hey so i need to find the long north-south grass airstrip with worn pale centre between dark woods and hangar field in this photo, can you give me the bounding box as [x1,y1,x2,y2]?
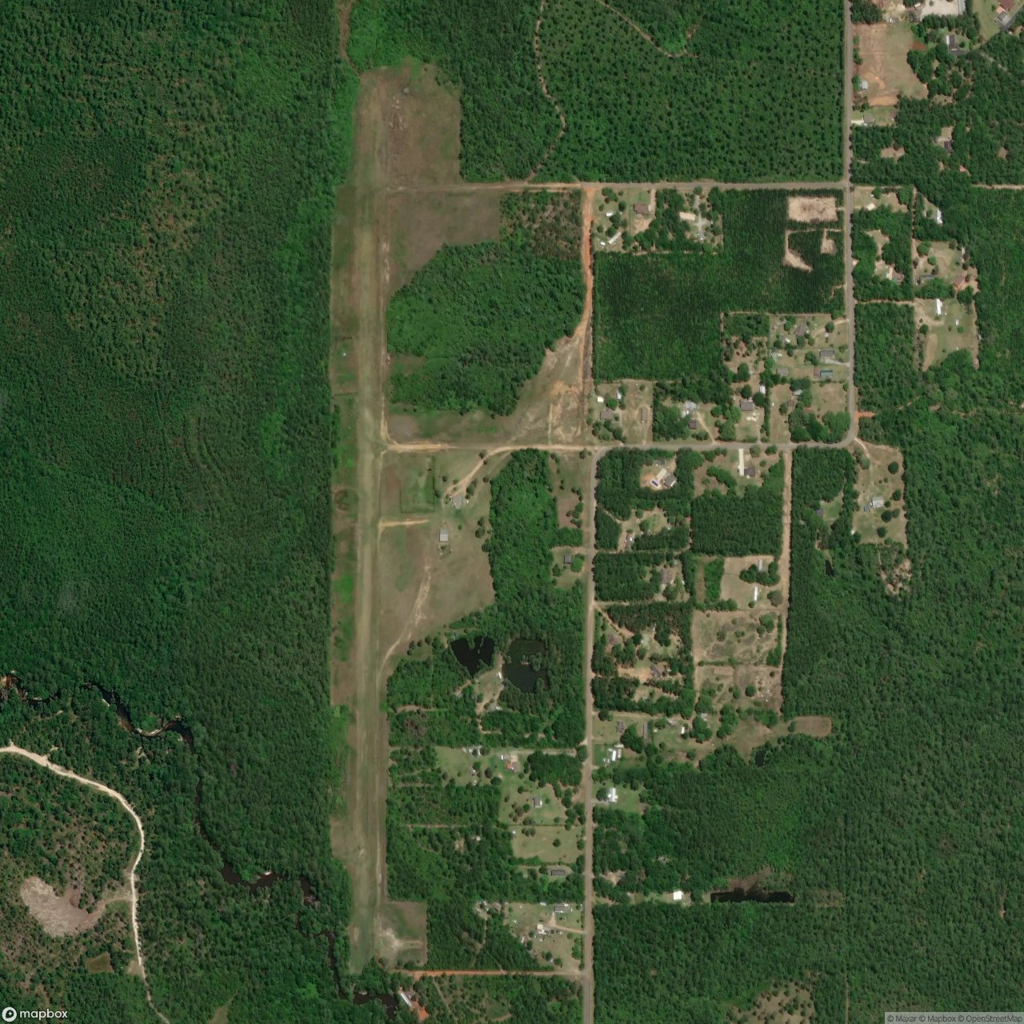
[328,58,490,972]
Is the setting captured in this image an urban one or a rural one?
rural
